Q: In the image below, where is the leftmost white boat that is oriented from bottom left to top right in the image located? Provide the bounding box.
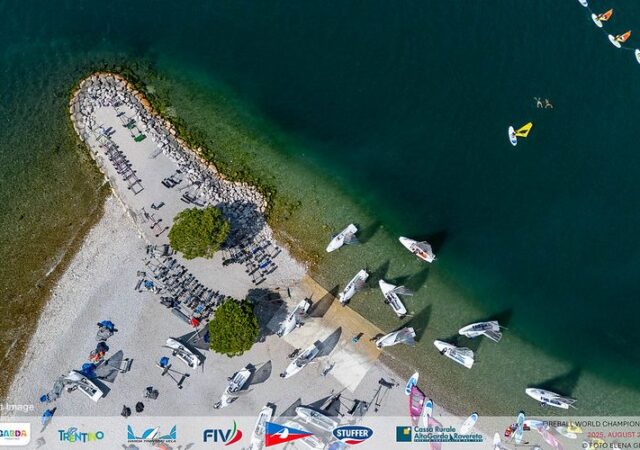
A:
[216,368,256,408]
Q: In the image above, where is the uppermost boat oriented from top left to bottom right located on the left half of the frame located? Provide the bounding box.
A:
[155,339,206,375]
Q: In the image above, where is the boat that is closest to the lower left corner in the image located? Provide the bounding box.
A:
[43,372,106,408]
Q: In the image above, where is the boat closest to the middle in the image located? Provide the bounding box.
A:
[326,223,363,253]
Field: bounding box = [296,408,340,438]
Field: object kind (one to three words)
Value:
boat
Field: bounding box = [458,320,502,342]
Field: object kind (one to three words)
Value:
boat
